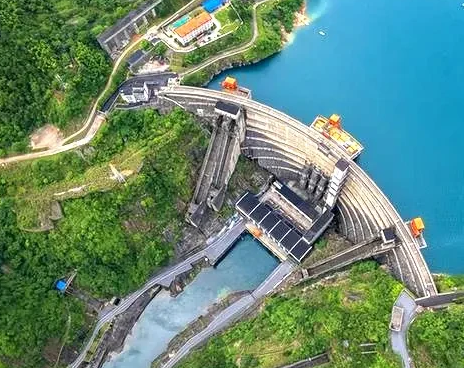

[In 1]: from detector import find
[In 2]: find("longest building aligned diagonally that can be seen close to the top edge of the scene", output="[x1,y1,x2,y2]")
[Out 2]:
[175,12,213,44]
